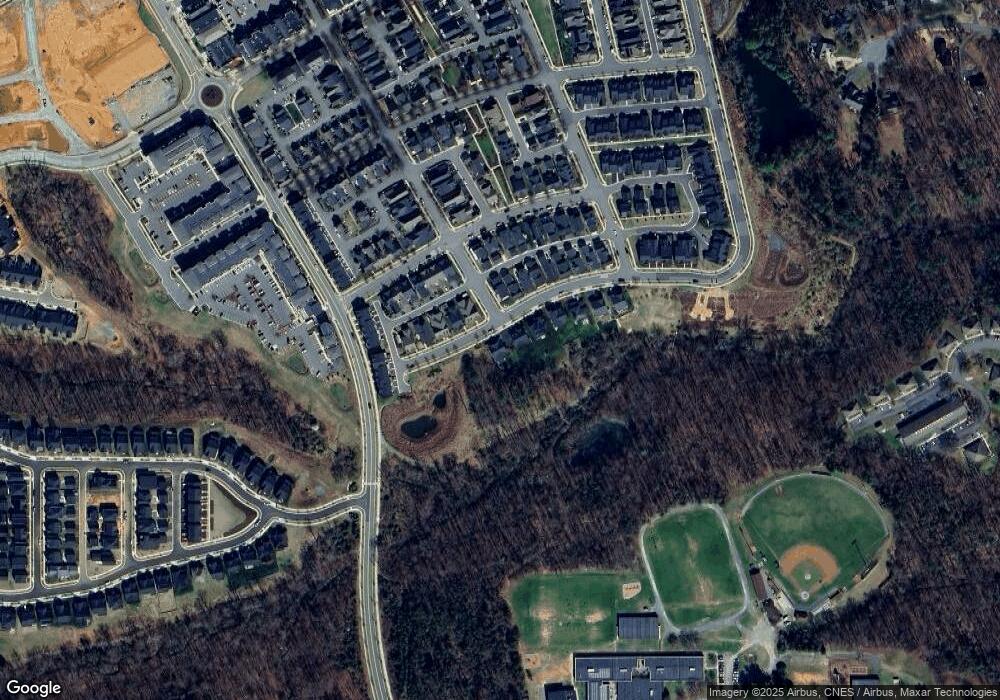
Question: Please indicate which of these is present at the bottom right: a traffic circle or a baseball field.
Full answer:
Looking at the bottom right, you will find a baseball field.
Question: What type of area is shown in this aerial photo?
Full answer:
This image shows a residential area.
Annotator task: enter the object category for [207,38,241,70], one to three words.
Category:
building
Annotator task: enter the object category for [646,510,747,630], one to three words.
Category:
sports field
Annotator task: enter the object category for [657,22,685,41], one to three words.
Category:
house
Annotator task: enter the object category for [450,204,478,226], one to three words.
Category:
house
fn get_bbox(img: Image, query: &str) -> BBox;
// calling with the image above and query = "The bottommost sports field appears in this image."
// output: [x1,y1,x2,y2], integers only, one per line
[512,573,658,652]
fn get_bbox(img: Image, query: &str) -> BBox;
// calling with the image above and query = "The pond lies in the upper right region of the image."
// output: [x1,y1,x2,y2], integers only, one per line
[735,49,816,151]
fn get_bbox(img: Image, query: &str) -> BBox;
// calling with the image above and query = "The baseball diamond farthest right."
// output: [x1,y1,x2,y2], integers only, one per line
[743,473,892,609]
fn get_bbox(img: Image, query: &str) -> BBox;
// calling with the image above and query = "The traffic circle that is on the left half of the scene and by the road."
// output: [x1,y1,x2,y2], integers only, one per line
[194,81,233,119]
